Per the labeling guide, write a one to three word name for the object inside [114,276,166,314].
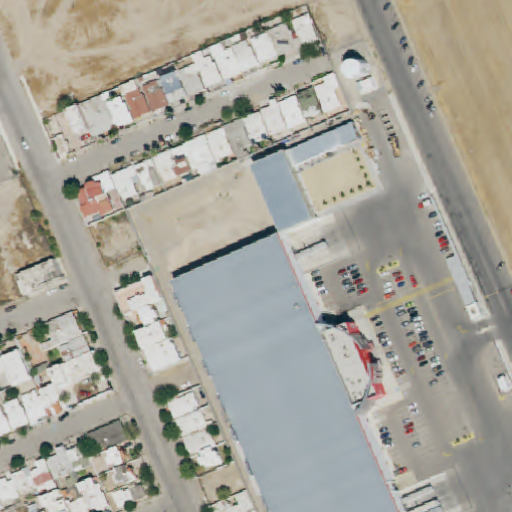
house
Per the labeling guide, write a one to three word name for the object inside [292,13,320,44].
house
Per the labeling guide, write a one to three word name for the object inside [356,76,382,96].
building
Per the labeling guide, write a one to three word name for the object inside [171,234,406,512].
building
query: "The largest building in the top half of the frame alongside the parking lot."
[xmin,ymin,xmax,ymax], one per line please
[252,150,318,231]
